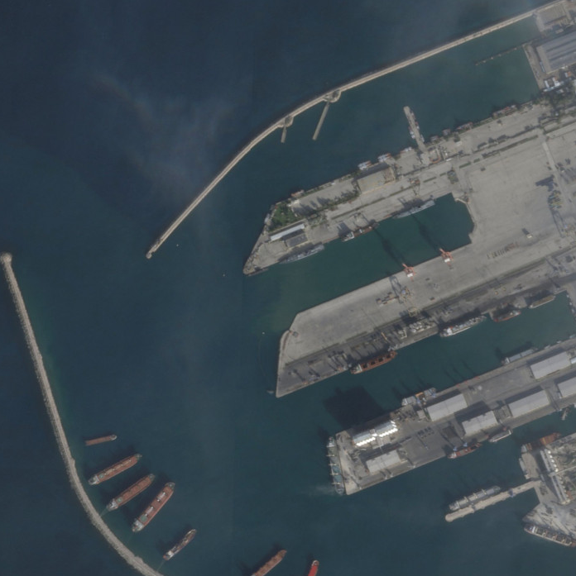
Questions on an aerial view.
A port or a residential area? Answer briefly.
port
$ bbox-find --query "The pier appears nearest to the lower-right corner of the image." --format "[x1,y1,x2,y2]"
[445,484,535,521]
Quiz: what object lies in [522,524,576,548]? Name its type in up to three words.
ship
